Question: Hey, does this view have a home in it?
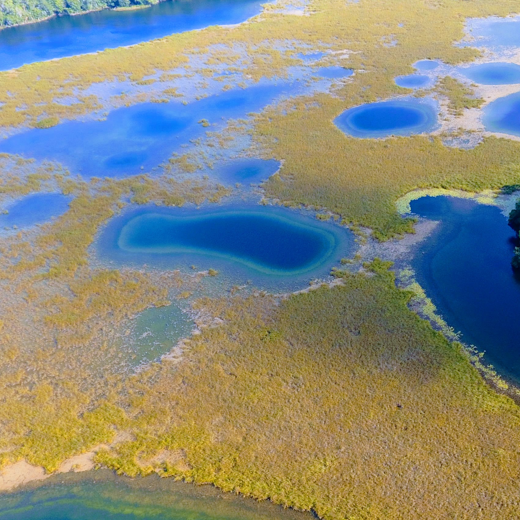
No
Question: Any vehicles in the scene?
No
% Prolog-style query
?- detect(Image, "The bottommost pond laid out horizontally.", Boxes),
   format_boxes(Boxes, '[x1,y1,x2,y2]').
[122,216,332,270]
